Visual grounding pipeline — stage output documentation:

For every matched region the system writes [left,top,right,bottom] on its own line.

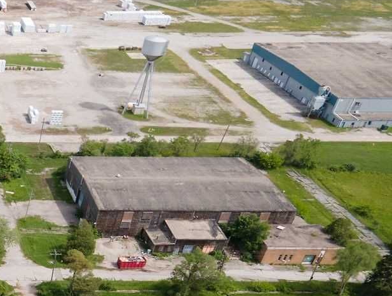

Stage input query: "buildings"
[63,156,297,238]
[251,224,350,266]
[130,101,148,114]
[246,43,392,128]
